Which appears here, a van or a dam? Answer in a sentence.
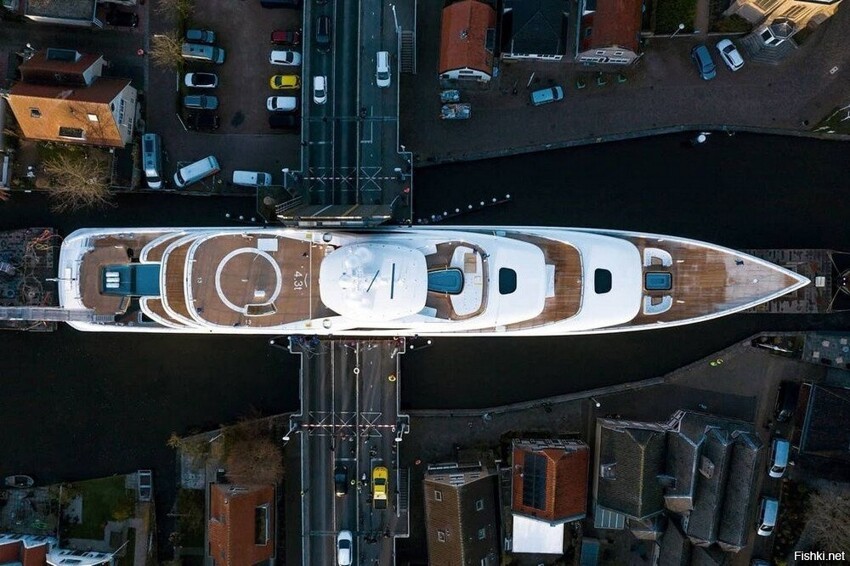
There is a van in the scene.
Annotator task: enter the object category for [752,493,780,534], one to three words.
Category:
van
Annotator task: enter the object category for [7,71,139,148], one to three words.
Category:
house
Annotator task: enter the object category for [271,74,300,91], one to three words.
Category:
car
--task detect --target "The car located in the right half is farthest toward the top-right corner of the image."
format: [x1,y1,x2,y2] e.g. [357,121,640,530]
[714,40,745,75]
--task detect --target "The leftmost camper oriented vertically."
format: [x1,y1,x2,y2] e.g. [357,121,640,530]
[141,132,168,191]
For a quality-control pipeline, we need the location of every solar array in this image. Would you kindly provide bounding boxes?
[520,457,546,520]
